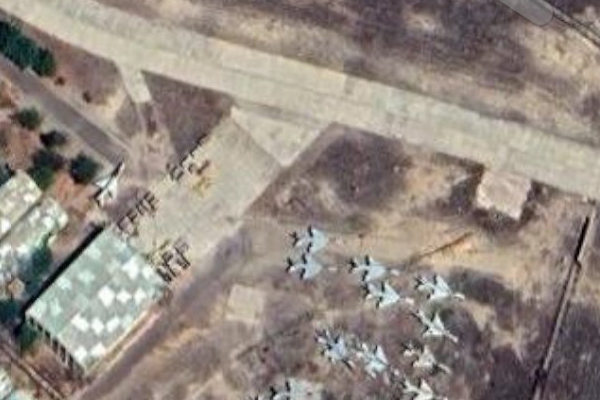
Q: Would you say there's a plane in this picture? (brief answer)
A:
Yes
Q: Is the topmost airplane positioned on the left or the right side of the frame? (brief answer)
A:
left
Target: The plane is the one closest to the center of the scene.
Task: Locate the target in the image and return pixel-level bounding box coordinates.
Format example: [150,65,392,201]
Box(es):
[296,229,343,254]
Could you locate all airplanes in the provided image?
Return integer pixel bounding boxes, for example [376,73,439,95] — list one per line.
[353,258,399,282]
[405,344,450,372]
[273,384,319,400]
[296,229,343,254]
[291,256,338,280]
[414,308,455,340]
[400,380,446,400]
[356,344,394,380]
[417,277,464,300]
[91,162,124,203]
[367,283,413,307]
[318,331,353,371]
